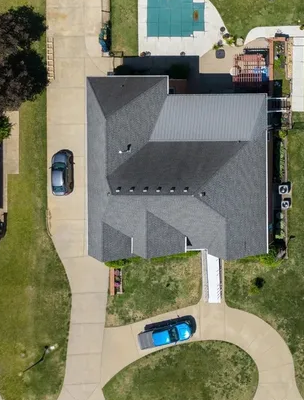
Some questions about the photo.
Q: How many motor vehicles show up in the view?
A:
two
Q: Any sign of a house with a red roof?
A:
No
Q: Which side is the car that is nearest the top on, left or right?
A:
left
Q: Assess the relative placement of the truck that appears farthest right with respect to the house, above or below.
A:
below it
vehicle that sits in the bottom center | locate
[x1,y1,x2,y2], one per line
[135,317,196,351]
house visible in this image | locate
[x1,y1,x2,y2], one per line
[86,76,285,262]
